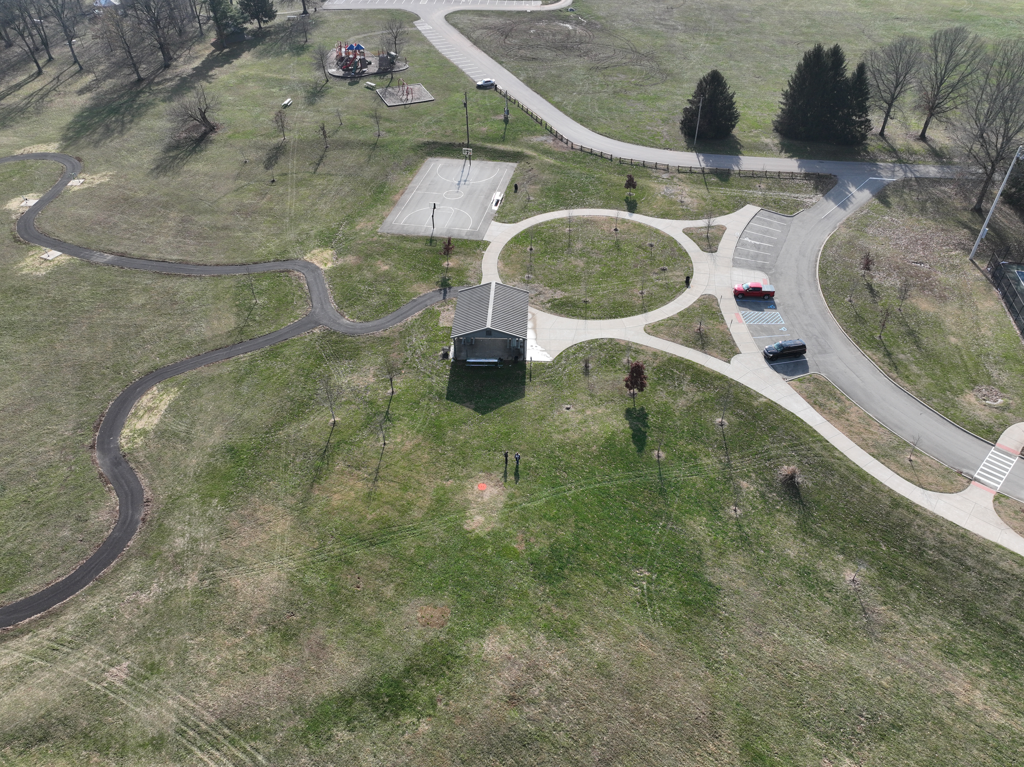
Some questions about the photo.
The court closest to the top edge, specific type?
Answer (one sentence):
I'd identify the court closest to the top edge as a basketball court.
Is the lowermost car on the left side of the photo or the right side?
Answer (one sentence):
The lowermost car is on the right side of the image.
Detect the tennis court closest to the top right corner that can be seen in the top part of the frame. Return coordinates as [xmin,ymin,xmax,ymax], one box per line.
[988,263,1024,338]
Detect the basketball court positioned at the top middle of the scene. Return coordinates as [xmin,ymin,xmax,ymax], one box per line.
[378,158,517,240]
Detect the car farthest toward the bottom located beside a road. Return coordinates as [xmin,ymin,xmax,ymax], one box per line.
[761,338,808,361]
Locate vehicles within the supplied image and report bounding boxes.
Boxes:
[732,282,775,299]
[761,338,808,361]
[476,78,497,87]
